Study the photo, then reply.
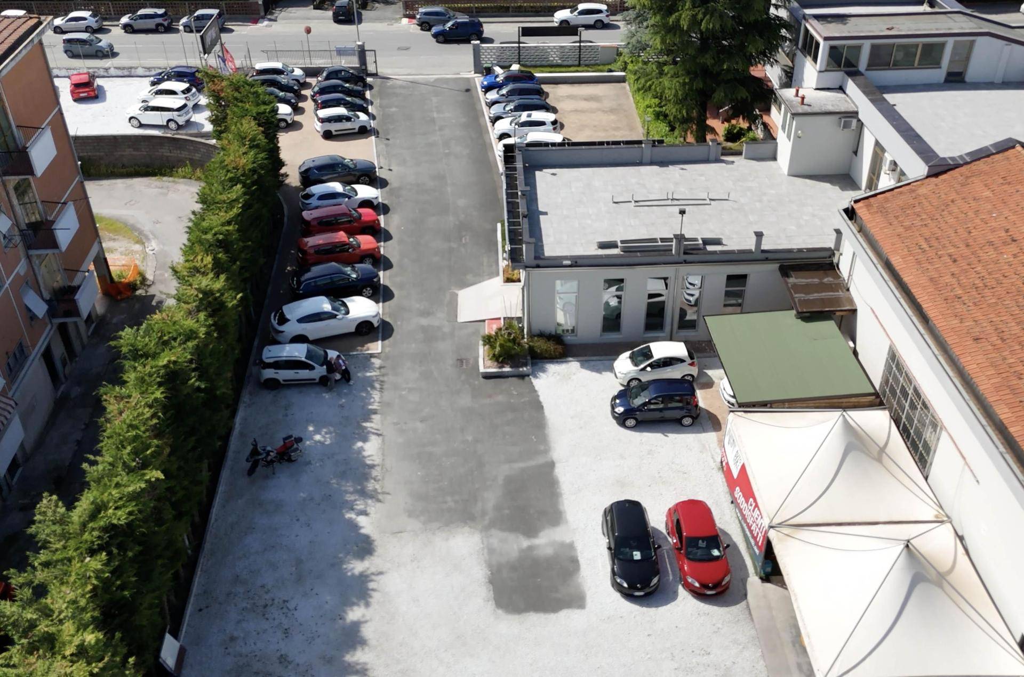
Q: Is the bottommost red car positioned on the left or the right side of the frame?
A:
right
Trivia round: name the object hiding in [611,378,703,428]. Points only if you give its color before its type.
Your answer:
black car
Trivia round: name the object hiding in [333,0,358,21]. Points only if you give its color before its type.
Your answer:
black car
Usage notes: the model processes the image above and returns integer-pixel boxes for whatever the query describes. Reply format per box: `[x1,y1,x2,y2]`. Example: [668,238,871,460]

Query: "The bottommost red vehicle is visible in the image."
[663,499,728,597]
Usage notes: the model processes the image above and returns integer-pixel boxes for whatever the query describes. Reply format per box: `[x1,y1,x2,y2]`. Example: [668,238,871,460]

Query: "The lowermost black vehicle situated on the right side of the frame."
[599,500,661,598]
